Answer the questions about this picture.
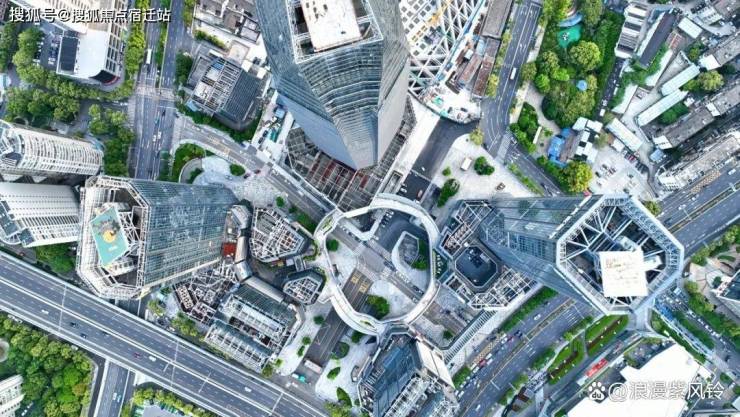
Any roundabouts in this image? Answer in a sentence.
No, there's no roundabout here.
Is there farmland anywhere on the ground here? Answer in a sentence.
No, the scene doesn't show any farmland.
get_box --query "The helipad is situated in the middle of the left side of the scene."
[89,205,135,267]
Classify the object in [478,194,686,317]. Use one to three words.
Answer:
building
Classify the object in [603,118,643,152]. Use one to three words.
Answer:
shed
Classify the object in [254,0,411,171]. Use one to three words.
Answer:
building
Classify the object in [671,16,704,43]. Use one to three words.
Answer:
shed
